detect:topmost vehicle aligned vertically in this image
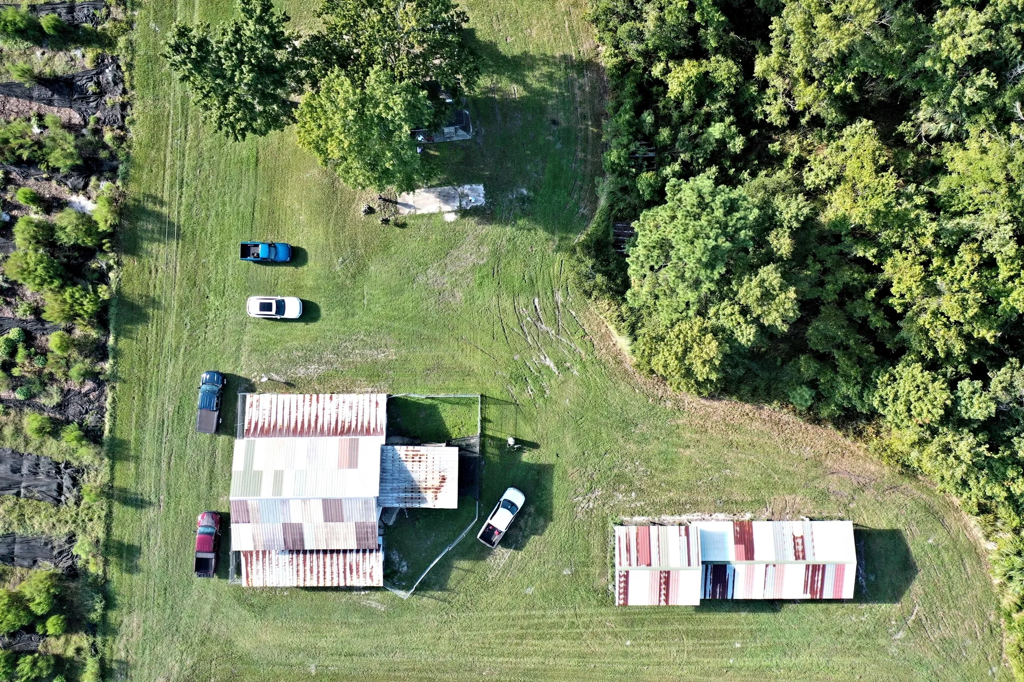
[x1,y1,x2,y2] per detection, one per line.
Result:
[195,369,226,434]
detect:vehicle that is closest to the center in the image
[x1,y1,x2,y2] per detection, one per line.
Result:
[477,484,524,550]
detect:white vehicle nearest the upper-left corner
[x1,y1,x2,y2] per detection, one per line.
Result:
[248,294,304,320]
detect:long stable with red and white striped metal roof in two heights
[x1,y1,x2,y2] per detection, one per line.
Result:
[608,512,858,605]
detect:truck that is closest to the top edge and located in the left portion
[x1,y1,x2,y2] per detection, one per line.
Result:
[240,240,294,264]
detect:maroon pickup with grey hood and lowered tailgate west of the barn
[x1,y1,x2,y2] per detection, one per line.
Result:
[194,511,222,575]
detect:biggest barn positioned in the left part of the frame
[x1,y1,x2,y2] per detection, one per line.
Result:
[229,392,391,588]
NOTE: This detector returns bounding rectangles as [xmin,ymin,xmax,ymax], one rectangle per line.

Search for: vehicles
[248,294,304,320]
[194,511,222,575]
[195,369,226,434]
[240,240,294,264]
[477,484,524,550]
